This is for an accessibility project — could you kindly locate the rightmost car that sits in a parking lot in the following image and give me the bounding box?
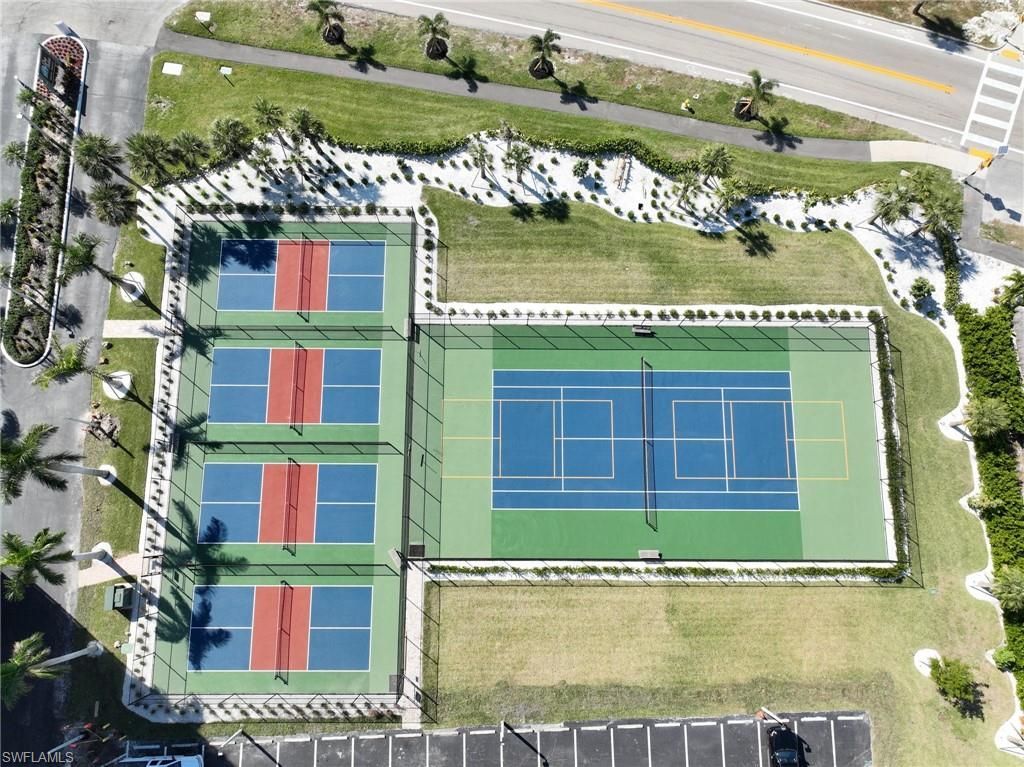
[771,729,805,767]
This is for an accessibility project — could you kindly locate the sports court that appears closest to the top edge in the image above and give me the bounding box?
[217,239,386,312]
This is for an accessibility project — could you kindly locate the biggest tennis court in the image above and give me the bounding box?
[406,325,889,560]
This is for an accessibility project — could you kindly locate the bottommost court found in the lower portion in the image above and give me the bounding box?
[187,585,373,671]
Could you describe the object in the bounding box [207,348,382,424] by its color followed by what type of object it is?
blue sports court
